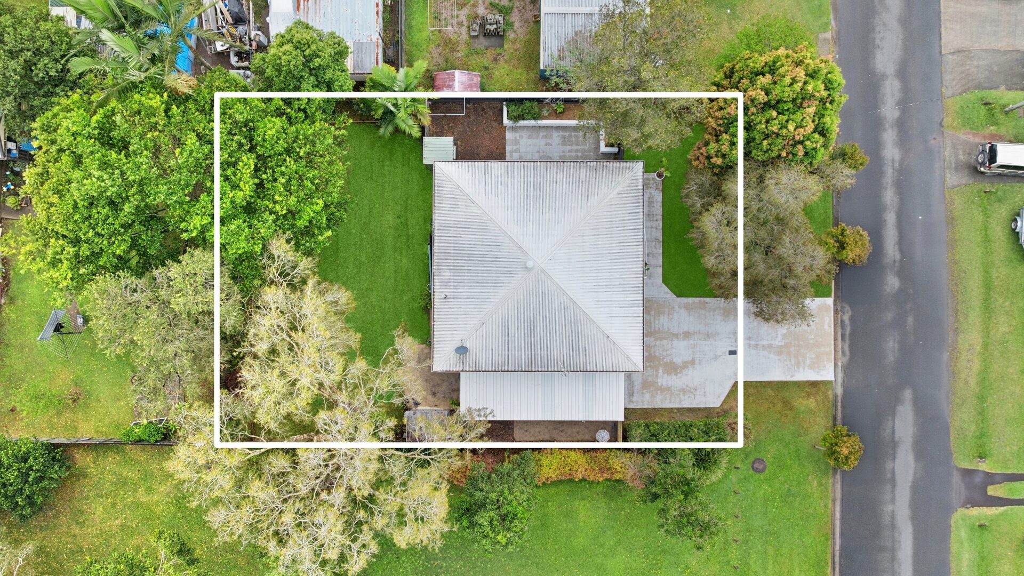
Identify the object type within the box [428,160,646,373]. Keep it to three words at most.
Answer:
house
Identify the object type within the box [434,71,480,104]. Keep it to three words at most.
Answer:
shed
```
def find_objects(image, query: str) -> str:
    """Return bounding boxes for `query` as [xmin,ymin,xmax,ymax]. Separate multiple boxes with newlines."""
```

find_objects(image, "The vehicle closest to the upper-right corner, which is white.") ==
[973,142,1024,177]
